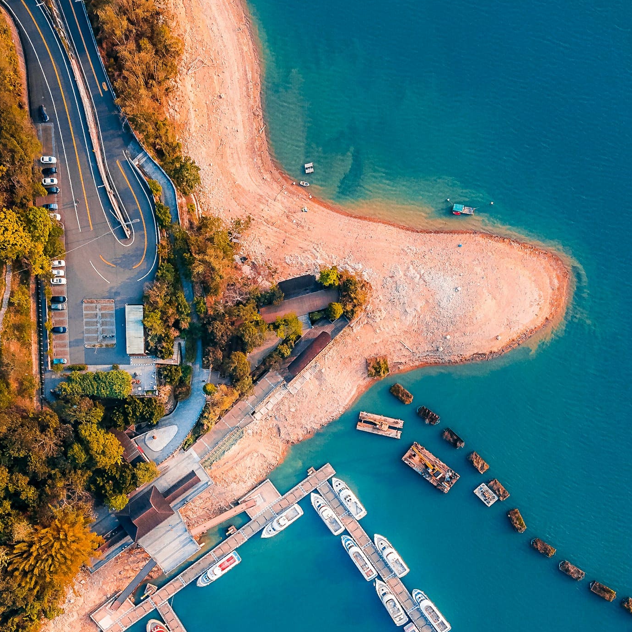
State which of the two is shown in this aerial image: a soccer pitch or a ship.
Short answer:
ship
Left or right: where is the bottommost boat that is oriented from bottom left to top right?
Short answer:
left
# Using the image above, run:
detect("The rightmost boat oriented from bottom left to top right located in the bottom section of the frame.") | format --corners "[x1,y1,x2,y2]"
[262,505,303,538]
